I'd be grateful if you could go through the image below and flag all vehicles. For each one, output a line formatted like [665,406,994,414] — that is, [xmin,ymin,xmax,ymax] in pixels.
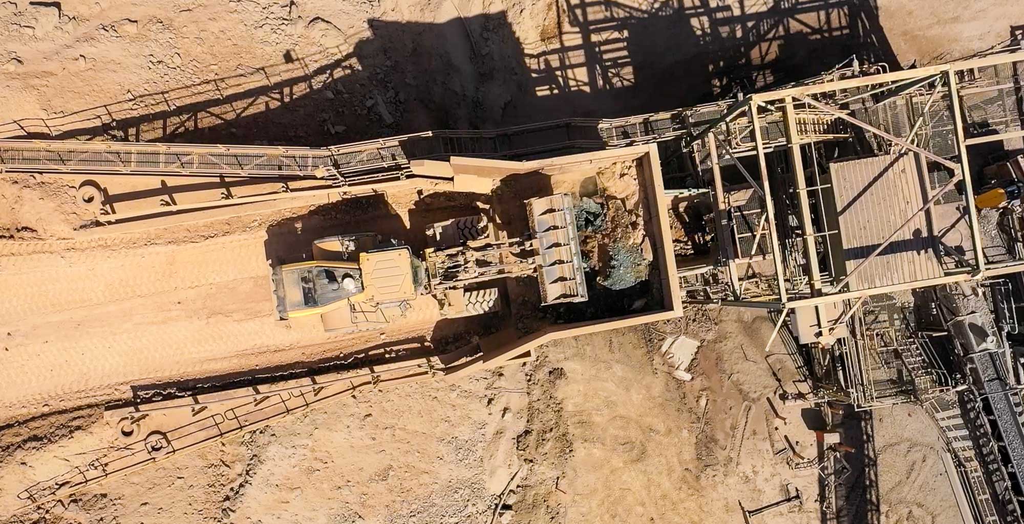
[272,195,587,333]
